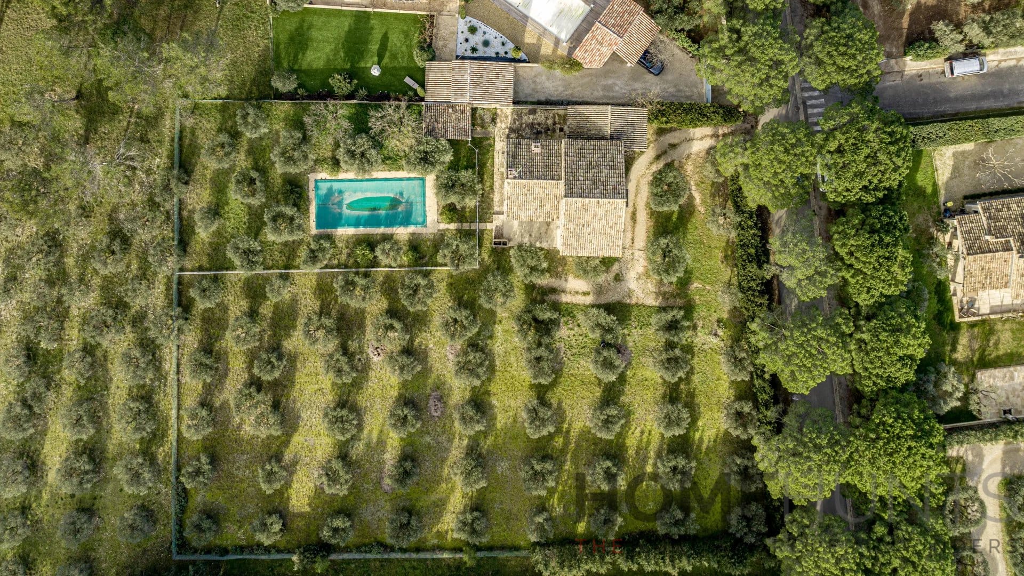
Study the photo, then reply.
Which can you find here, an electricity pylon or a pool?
pool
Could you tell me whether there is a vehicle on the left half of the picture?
No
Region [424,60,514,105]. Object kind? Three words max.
shed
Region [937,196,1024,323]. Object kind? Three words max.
house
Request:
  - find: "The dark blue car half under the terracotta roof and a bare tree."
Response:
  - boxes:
[637,48,667,79]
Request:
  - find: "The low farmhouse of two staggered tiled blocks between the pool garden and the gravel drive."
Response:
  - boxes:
[493,139,631,257]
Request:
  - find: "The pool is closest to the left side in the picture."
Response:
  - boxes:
[309,171,437,234]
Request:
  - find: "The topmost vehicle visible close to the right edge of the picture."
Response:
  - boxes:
[941,55,987,79]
